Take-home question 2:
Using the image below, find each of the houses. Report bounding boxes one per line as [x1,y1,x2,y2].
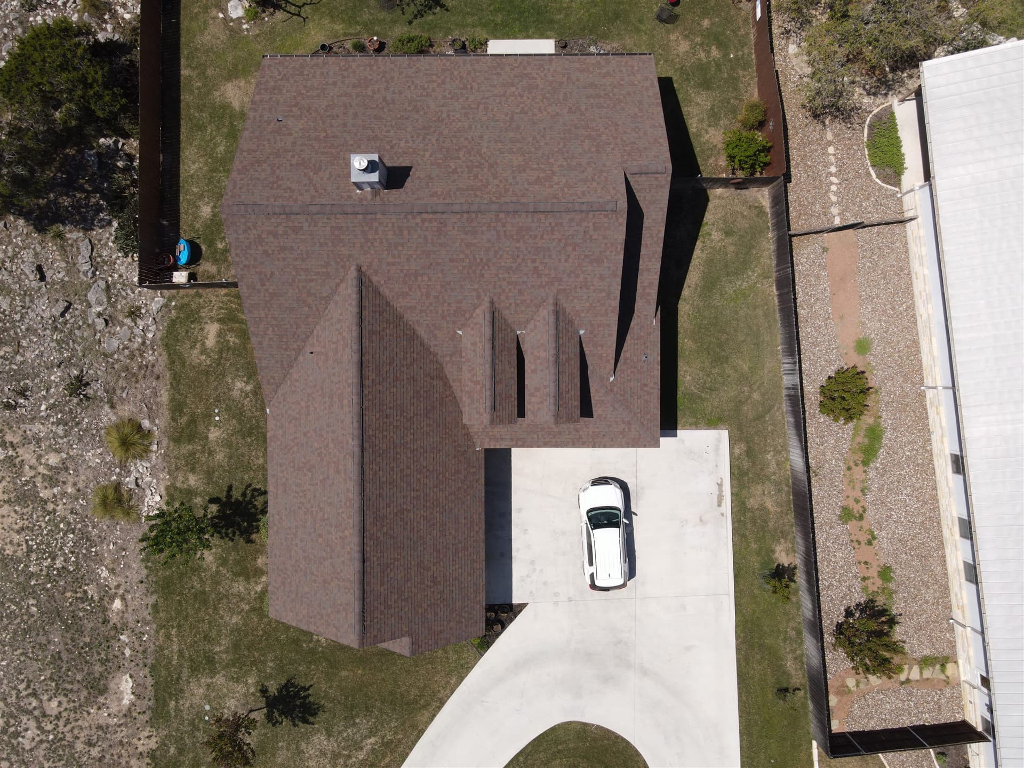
[891,38,1024,768]
[221,52,671,657]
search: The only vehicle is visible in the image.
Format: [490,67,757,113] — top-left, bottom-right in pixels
[577,479,632,593]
